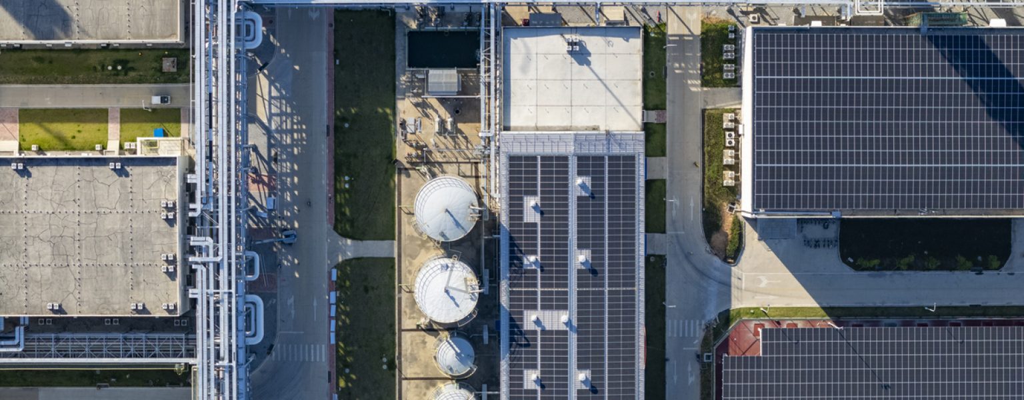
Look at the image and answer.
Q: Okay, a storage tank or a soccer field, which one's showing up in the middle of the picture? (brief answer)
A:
storage tank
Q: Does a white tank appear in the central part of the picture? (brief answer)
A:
Yes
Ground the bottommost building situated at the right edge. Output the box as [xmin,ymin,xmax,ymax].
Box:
[735,25,1024,218]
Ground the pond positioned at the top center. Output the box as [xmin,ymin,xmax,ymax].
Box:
[407,28,482,69]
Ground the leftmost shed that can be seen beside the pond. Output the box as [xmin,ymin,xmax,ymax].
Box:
[427,69,465,96]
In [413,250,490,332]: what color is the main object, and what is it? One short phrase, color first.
white storage tank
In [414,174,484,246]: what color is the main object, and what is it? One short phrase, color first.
white storage tank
